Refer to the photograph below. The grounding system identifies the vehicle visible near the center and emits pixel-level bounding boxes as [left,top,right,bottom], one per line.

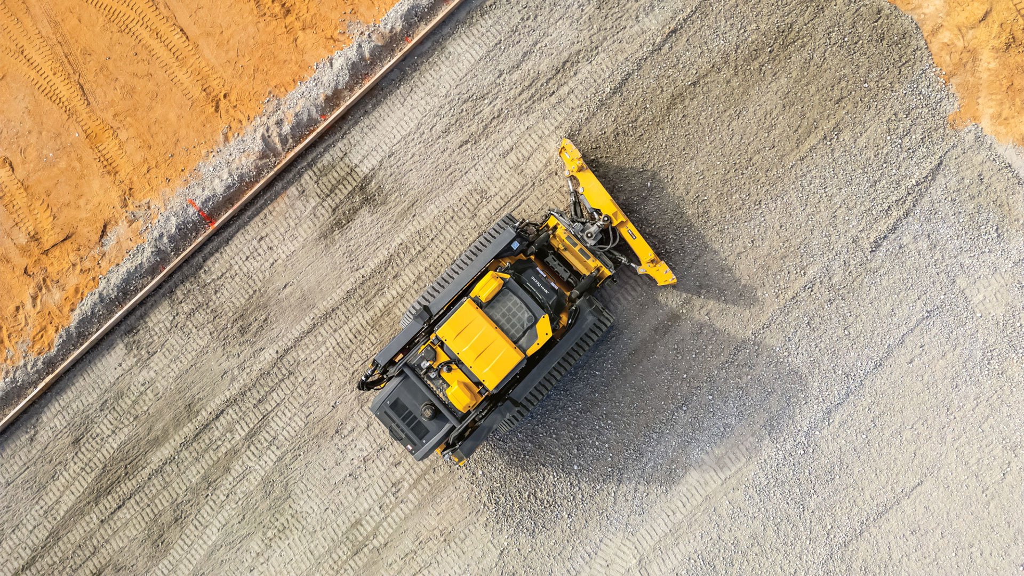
[359,139,677,463]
